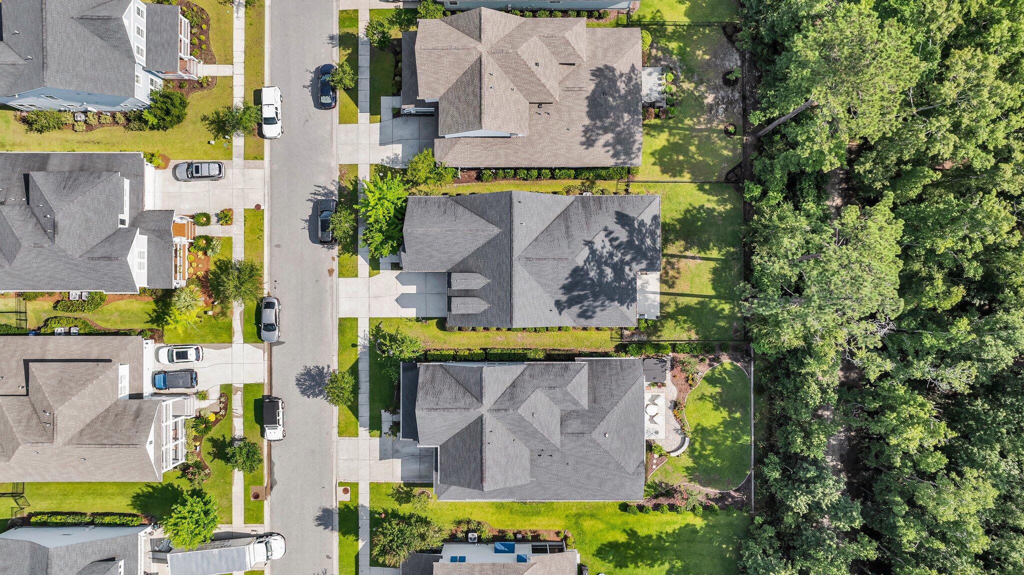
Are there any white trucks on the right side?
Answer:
No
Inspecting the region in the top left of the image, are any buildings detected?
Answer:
Yes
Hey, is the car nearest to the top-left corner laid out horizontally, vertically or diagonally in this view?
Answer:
horizontally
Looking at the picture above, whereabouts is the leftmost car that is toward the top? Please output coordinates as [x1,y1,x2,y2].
[175,158,225,180]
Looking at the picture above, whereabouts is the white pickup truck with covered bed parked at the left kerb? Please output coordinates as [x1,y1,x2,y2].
[261,84,283,140]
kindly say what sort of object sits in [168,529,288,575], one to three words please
truck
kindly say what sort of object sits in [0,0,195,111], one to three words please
house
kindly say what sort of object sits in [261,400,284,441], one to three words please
car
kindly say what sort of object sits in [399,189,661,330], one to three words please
house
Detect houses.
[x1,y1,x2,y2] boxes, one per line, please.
[400,357,647,501]
[0,336,196,483]
[399,189,661,330]
[399,542,580,575]
[0,152,195,293]
[0,0,195,111]
[0,523,159,575]
[401,6,645,168]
